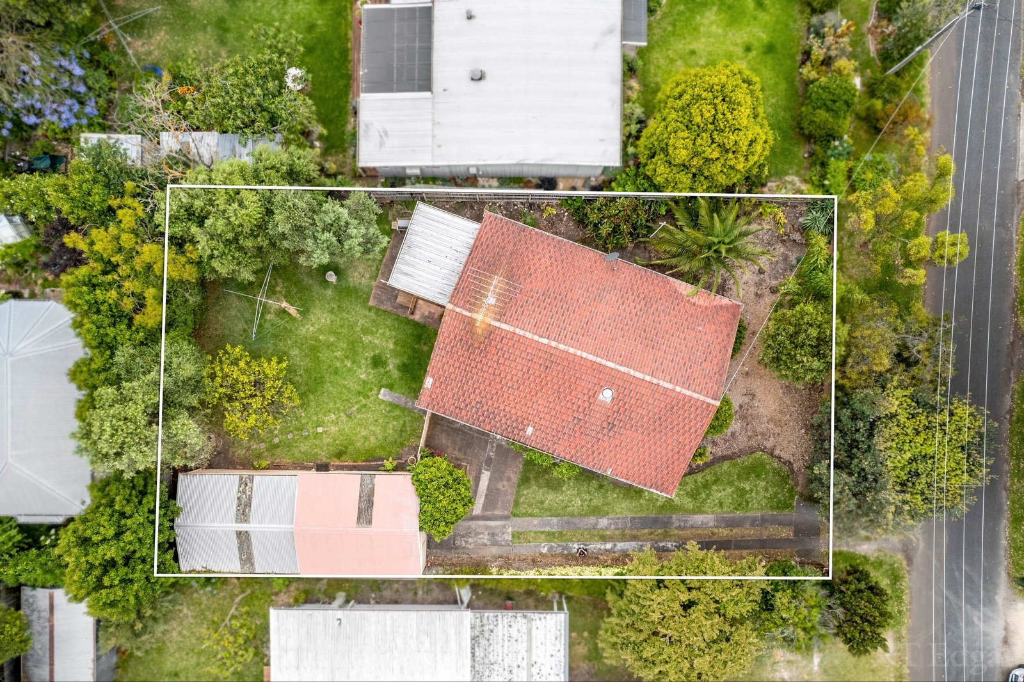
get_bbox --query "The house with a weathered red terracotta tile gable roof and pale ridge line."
[415,209,744,499]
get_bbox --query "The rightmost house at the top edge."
[355,0,625,181]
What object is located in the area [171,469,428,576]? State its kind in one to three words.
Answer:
building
